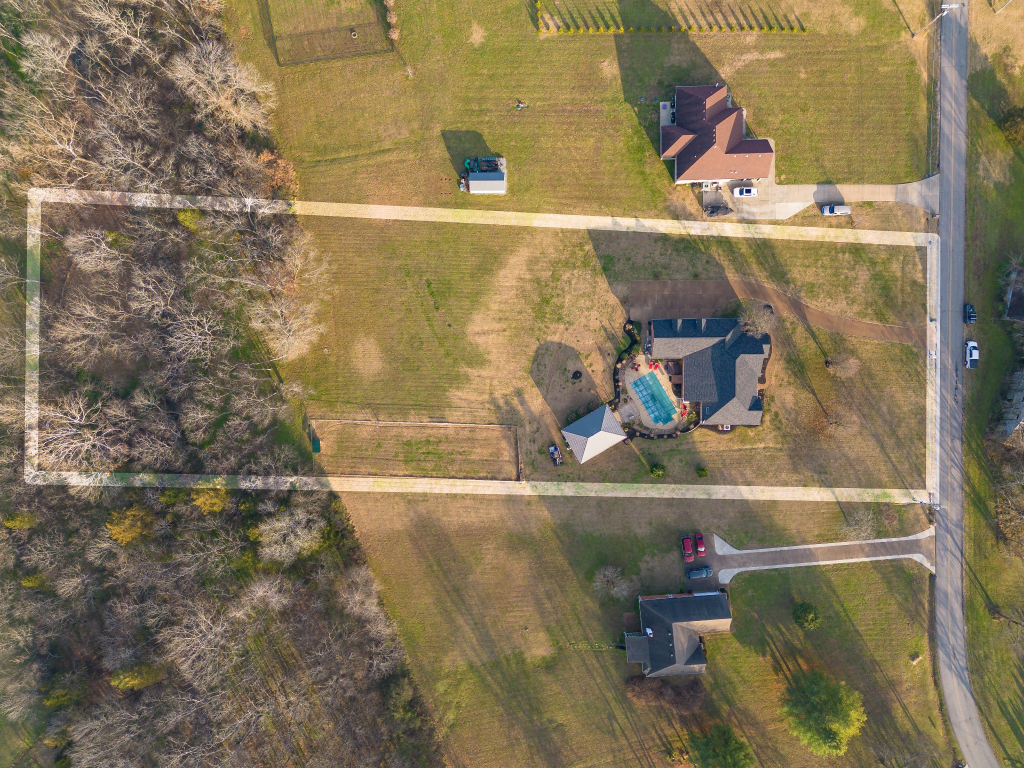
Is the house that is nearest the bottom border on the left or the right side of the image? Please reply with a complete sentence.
It is on the right.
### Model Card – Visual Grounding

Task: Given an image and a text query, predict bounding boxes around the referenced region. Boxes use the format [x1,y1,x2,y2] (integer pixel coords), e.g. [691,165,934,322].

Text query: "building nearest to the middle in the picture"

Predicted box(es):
[561,404,627,464]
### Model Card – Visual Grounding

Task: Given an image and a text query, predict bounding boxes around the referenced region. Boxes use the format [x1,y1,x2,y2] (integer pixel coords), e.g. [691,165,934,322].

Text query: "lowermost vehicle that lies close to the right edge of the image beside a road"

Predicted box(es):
[964,340,979,369]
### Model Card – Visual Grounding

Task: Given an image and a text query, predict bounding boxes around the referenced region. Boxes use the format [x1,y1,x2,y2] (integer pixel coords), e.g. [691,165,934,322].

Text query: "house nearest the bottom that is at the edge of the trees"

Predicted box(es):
[624,592,732,677]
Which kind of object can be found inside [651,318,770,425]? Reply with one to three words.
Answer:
house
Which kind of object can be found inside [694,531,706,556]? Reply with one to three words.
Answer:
vehicle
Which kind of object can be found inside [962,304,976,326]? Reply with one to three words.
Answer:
car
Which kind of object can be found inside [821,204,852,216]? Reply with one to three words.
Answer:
vehicle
